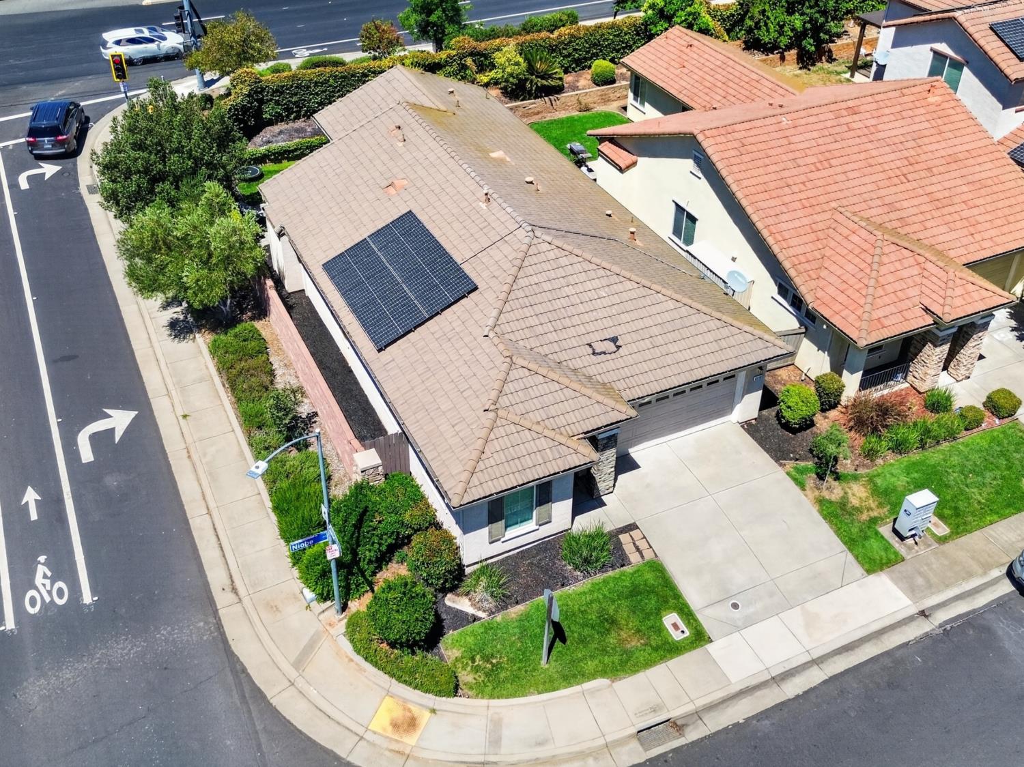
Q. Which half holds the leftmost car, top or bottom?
top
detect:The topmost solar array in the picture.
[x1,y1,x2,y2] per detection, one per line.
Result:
[992,16,1024,60]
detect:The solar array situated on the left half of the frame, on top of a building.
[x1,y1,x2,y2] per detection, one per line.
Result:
[322,209,476,351]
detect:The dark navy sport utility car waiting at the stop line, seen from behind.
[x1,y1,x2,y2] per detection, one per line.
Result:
[29,95,89,148]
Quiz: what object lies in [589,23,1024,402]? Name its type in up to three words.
house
